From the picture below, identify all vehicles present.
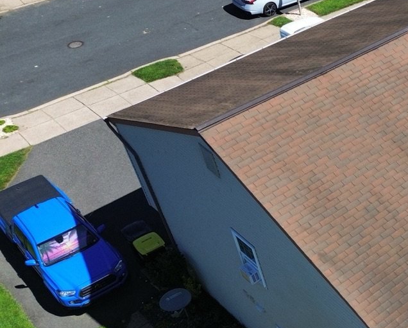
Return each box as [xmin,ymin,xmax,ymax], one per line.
[231,0,311,20]
[276,17,317,40]
[0,173,124,310]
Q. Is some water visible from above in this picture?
No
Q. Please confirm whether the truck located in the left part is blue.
Yes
